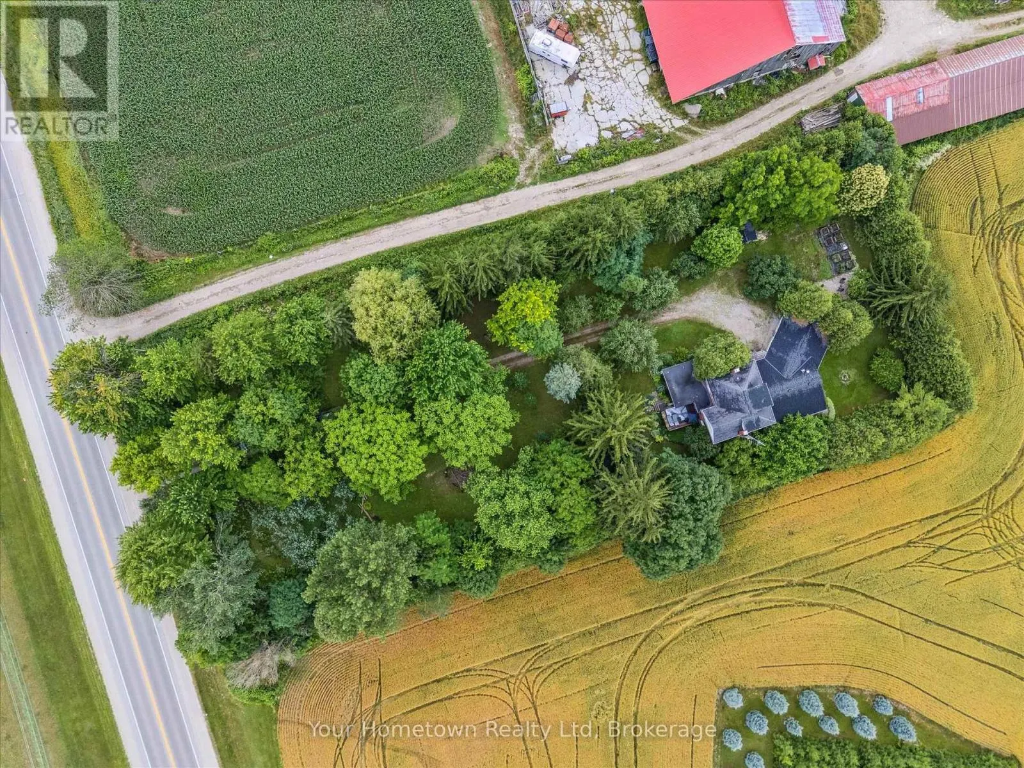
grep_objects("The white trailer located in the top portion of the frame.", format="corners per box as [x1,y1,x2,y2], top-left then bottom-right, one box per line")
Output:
[527,31,579,69]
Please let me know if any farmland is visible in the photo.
Yes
